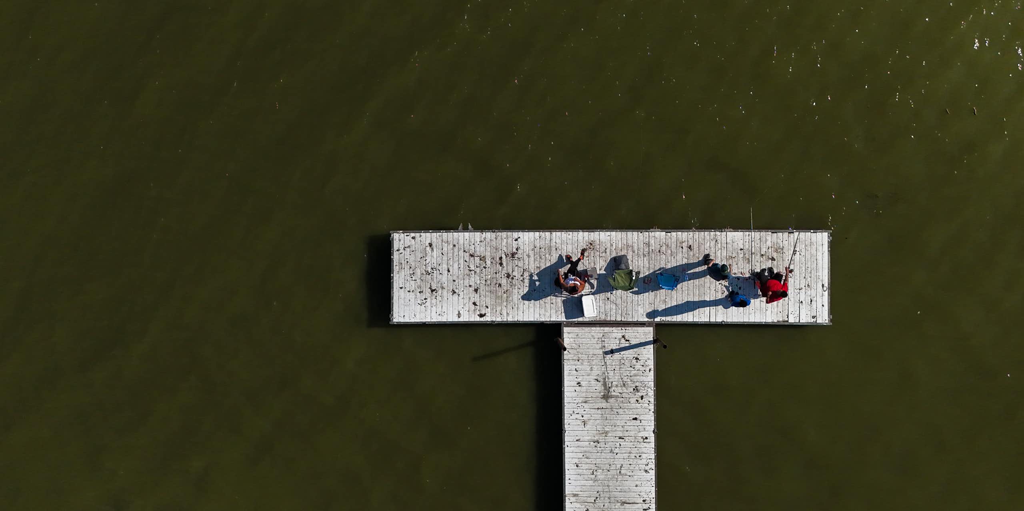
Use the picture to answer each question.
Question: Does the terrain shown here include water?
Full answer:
Yes, there is water in the image.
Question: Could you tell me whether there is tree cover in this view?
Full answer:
No, tree cover can't be seen anywhere here.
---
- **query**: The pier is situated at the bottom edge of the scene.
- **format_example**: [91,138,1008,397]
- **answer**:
[555,324,661,511]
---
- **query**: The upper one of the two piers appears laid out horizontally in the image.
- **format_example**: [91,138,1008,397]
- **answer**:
[390,223,832,325]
